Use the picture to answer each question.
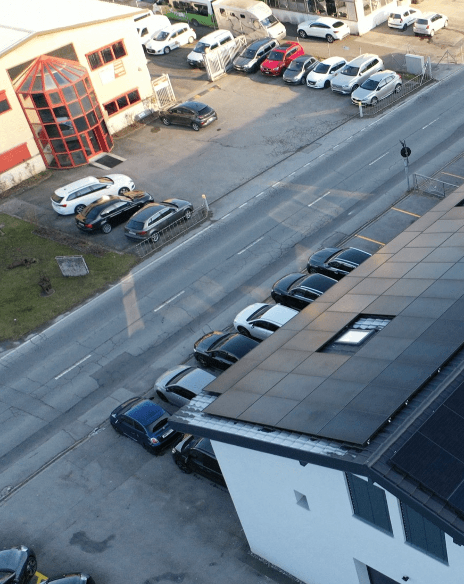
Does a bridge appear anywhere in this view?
No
